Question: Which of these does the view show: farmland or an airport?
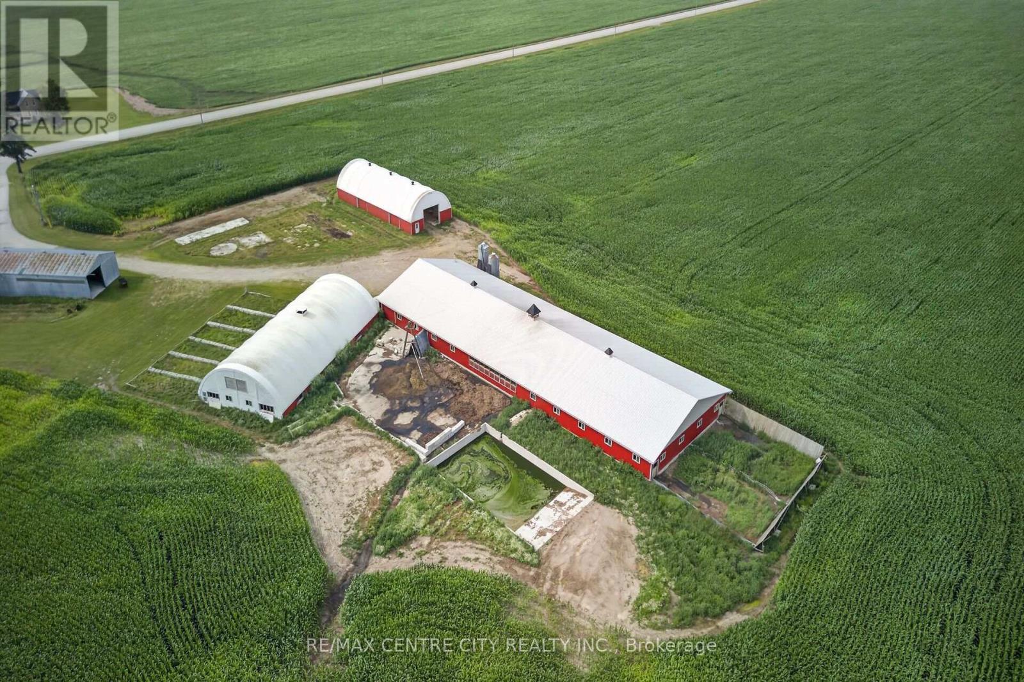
farmland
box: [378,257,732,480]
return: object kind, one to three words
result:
barn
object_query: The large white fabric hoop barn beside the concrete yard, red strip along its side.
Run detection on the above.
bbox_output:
[196,271,381,424]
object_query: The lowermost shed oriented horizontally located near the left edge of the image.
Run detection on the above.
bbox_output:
[0,250,122,298]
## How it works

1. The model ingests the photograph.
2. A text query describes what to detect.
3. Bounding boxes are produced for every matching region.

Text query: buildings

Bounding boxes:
[336,158,452,234]
[196,271,381,424]
[0,250,122,298]
[0,81,68,129]
[378,257,732,480]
